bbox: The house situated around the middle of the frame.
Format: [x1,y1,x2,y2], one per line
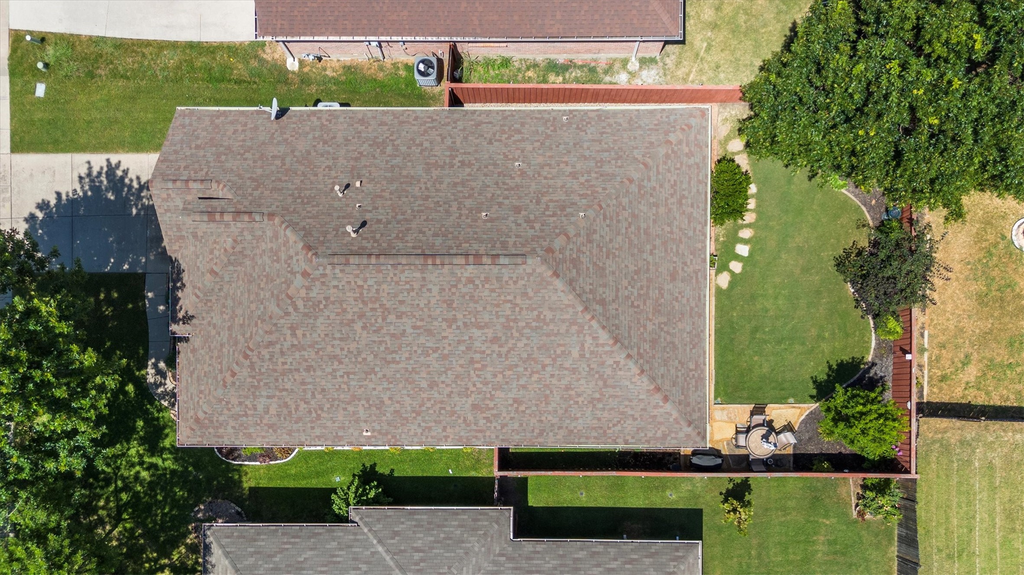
[148,107,711,446]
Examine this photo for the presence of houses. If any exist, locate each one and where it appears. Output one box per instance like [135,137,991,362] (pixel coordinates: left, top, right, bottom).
[251,0,683,63]
[148,107,711,446]
[203,507,702,575]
